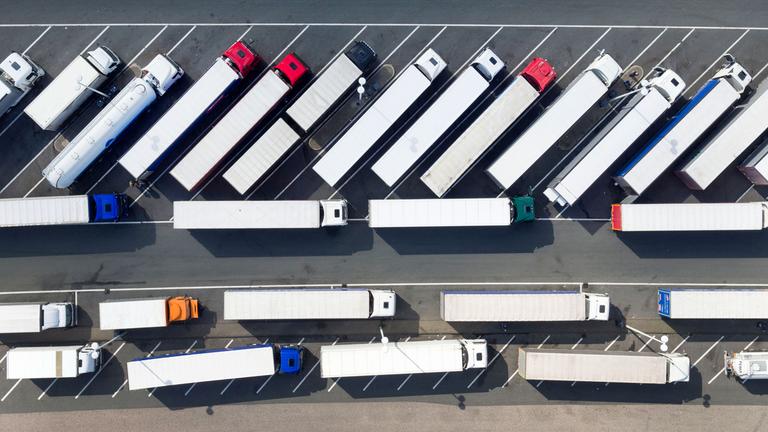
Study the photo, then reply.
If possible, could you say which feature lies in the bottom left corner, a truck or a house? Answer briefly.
truck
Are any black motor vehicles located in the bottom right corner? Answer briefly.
No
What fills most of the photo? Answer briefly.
paved ground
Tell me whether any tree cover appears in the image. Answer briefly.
No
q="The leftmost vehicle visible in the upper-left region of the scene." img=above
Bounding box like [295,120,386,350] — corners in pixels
[0,50,48,121]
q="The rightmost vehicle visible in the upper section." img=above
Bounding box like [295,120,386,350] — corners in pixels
[736,136,768,188]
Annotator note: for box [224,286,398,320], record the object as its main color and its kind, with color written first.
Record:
white truck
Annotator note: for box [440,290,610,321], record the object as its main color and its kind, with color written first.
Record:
white truck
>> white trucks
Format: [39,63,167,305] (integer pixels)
[313,44,452,188]
[610,203,768,232]
[670,77,768,190]
[6,344,105,379]
[418,57,556,198]
[0,193,129,226]
[656,287,768,319]
[518,346,690,383]
[482,50,626,190]
[25,44,122,131]
[41,53,182,190]
[170,50,314,193]
[320,336,490,376]
[127,338,304,390]
[440,290,610,321]
[224,286,398,320]
[367,196,536,228]
[118,39,262,182]
[172,199,350,230]
[370,46,508,188]
[610,57,755,196]
[0,301,70,333]
[539,68,688,209]
[99,294,202,330]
